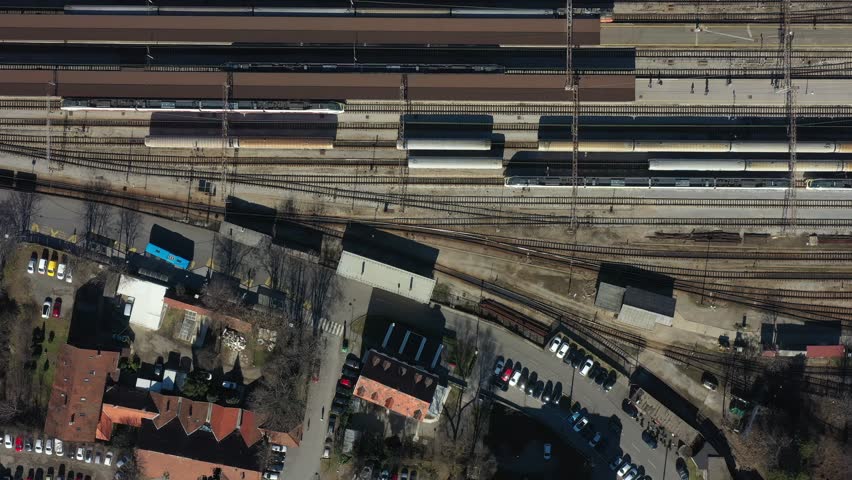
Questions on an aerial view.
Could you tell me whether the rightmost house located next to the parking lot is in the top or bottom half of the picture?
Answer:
bottom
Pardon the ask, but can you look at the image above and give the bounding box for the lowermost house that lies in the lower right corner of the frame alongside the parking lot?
[692,439,731,480]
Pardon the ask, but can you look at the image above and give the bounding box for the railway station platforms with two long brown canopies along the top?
[0,14,852,104]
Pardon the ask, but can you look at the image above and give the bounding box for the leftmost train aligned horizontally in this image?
[63,97,345,111]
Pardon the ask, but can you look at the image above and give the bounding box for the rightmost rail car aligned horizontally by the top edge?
[554,7,610,21]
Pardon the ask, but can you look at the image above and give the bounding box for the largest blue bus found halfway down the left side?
[146,244,193,272]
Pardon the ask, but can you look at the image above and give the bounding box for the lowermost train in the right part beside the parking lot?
[503,176,790,189]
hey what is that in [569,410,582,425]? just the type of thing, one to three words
vehicle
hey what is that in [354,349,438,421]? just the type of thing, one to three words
house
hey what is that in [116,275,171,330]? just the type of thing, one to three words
building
